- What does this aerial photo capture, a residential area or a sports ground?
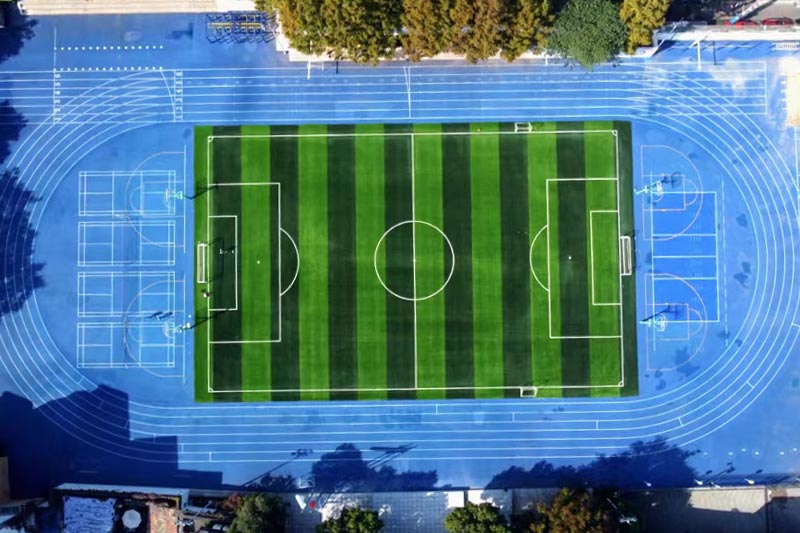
sports ground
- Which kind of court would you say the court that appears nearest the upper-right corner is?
basketball court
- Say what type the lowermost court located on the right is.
basketball court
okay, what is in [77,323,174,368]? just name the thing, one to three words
sports court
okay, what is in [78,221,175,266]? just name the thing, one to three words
sports court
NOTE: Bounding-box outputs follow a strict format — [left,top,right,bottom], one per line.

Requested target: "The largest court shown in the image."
[650,172,727,350]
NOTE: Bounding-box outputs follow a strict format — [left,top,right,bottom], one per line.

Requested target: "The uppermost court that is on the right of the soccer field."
[641,145,702,240]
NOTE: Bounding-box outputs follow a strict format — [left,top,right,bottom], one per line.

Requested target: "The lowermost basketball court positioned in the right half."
[645,274,706,370]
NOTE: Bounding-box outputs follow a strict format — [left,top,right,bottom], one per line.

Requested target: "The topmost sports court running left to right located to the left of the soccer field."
[79,170,175,216]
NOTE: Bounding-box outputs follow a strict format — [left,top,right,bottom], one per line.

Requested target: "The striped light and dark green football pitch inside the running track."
[195,120,638,402]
